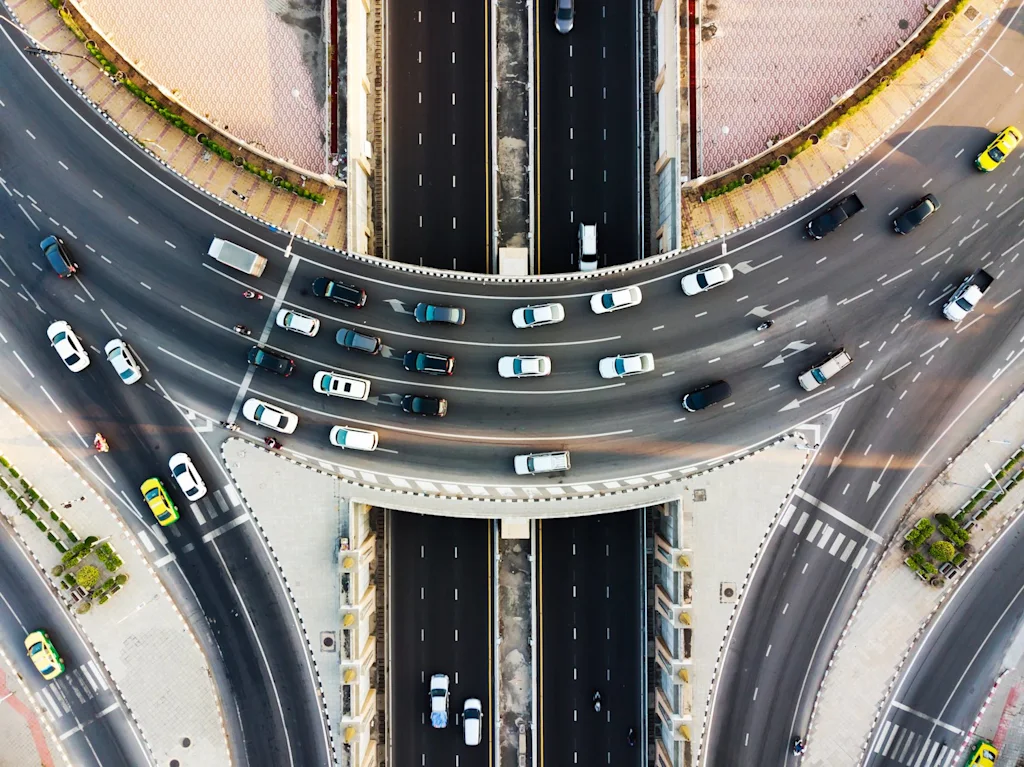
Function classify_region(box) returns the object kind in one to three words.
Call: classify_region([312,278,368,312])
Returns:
car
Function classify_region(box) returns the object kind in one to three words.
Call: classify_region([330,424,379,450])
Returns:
car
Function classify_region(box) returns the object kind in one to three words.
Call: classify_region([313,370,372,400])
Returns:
van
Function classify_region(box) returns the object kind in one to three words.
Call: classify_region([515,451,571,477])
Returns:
truck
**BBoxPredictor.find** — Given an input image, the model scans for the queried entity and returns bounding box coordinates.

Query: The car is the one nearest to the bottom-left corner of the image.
[24,629,71,681]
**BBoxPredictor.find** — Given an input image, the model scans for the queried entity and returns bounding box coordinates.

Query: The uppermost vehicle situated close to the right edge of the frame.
[969,123,1024,171]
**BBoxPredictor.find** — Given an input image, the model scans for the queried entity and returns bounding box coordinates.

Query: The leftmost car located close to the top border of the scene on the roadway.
[554,0,577,34]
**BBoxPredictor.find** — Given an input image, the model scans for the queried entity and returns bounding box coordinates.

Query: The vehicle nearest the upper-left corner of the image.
[40,234,80,280]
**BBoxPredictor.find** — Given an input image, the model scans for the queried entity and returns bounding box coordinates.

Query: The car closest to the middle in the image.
[499,354,550,379]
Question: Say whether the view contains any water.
No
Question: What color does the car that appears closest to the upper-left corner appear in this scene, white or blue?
blue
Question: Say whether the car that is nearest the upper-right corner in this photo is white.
No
